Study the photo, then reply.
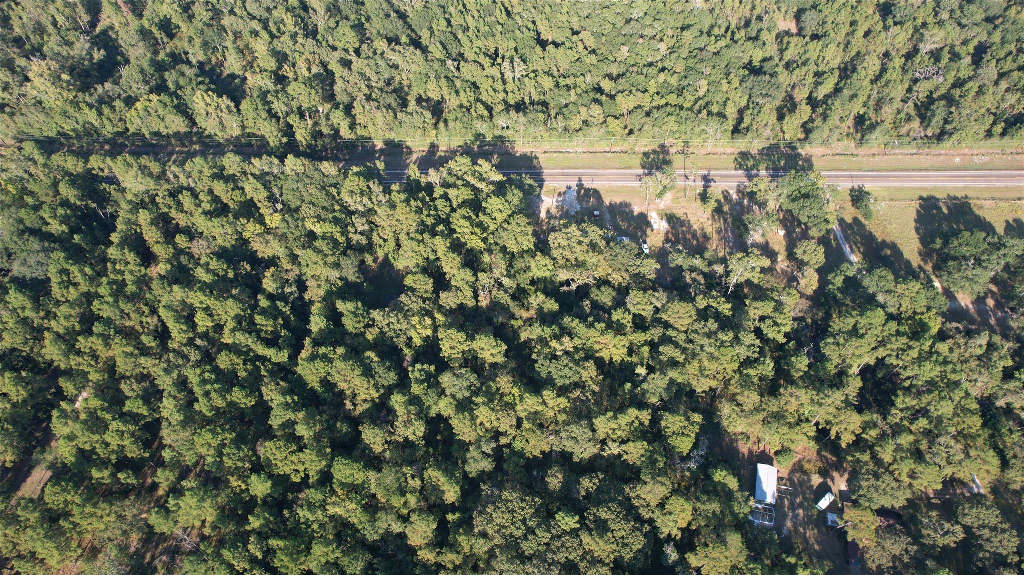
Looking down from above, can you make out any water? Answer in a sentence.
No, no water is visible.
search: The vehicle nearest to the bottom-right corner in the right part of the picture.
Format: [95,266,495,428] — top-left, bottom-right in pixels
[815,492,834,511]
